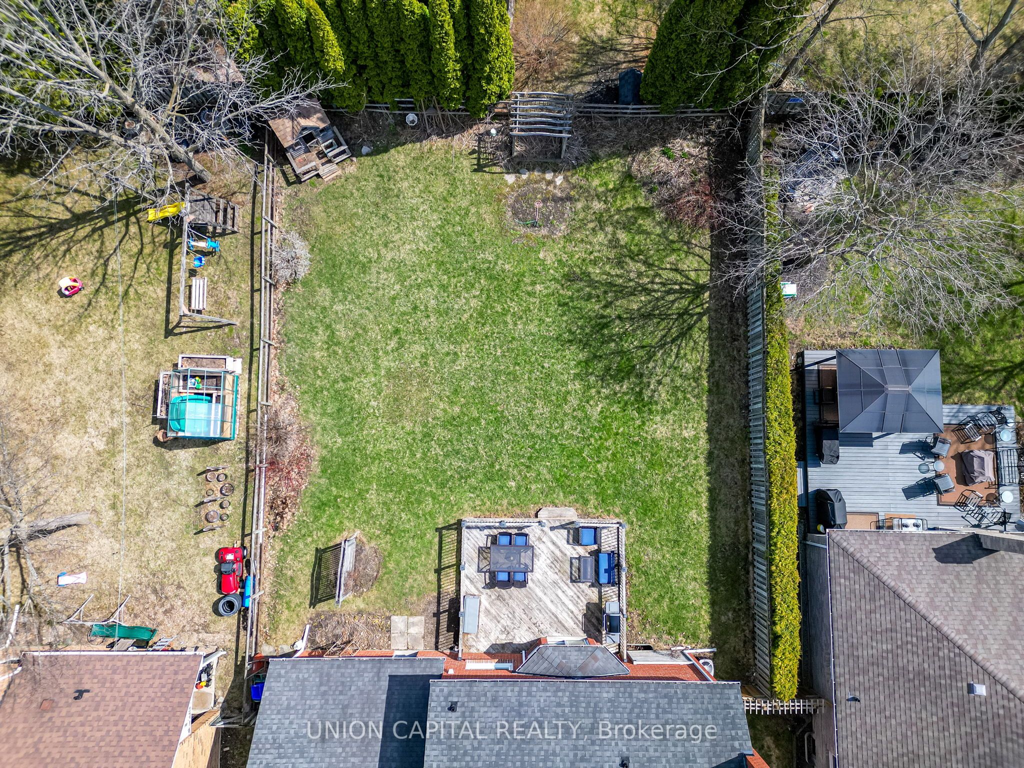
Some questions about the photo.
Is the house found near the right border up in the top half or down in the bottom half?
bottom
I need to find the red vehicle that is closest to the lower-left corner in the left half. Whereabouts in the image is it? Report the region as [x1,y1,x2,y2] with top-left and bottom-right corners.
[214,545,250,598]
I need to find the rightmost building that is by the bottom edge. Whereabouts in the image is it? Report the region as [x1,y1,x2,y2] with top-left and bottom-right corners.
[796,527,1024,768]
